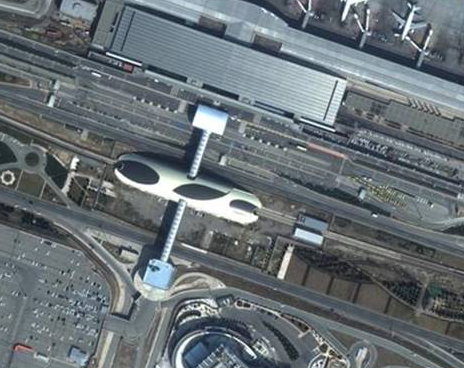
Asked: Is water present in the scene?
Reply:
No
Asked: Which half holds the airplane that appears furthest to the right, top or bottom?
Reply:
top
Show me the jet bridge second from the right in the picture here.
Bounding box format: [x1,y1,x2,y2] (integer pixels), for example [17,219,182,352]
[354,9,372,49]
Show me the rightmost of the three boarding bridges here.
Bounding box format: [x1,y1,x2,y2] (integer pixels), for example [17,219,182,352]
[405,29,434,67]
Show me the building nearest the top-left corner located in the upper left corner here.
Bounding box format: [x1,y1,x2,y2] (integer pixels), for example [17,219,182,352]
[59,0,99,23]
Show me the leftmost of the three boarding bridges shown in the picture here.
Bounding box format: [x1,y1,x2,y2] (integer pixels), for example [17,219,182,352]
[297,0,314,29]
